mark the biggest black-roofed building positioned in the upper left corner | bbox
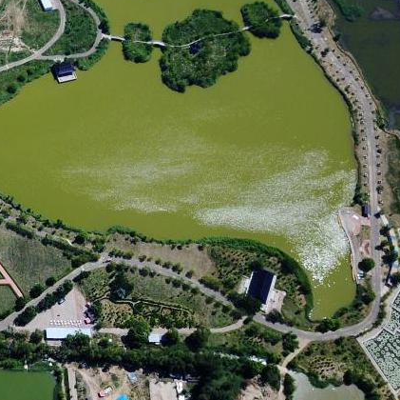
[55,59,80,85]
